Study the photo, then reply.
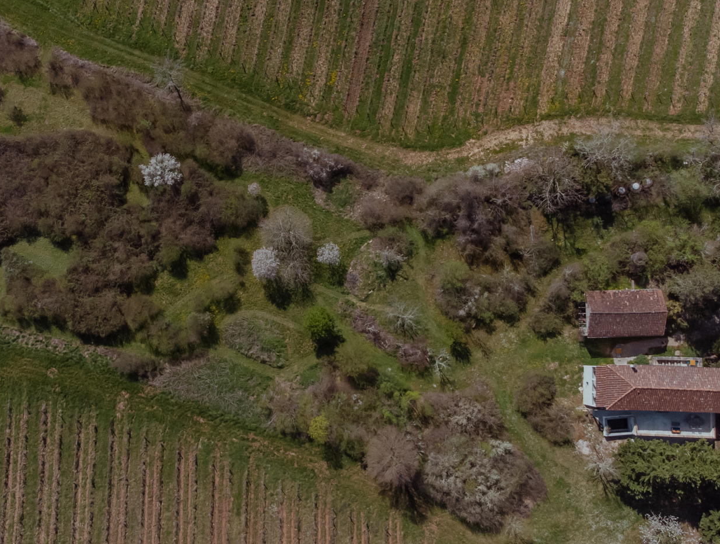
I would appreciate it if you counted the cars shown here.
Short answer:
0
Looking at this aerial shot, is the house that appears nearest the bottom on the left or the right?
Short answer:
right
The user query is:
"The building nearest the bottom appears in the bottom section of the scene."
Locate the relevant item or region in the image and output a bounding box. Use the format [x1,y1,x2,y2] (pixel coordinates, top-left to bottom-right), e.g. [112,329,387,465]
[584,363,720,414]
